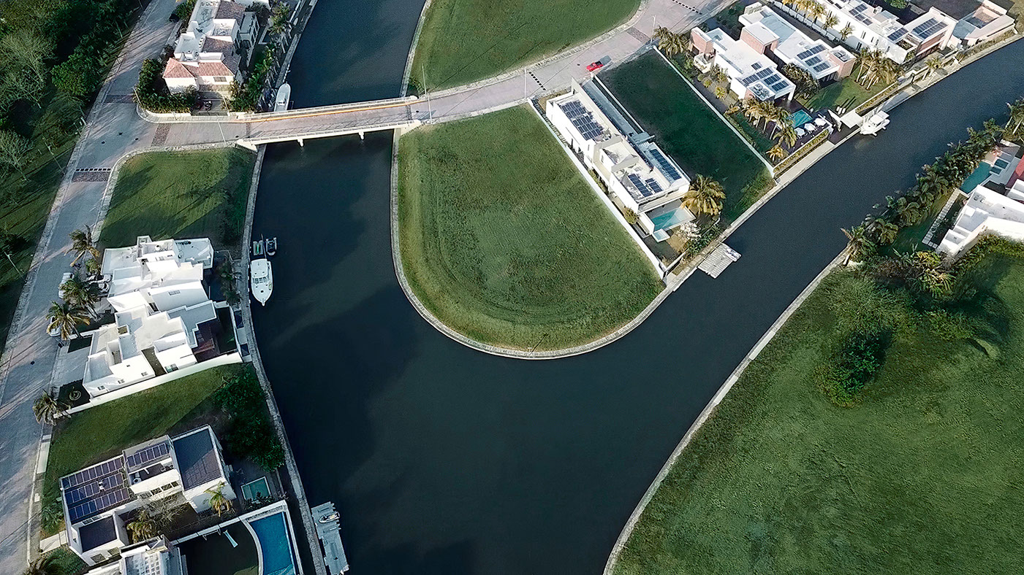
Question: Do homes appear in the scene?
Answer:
Yes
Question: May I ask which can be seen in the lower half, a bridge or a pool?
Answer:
pool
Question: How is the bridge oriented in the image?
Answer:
horizontally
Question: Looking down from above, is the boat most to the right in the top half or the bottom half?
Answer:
top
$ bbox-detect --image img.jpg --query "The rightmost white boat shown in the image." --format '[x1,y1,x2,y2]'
[861,102,894,132]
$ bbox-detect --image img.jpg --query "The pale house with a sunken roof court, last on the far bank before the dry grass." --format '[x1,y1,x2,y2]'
[948,0,1015,53]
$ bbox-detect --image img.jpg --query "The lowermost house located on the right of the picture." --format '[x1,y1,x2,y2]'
[932,179,1024,267]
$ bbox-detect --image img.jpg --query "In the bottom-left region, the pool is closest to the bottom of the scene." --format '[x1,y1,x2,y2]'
[243,506,298,575]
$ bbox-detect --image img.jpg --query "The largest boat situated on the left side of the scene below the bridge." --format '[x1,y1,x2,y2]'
[248,251,272,304]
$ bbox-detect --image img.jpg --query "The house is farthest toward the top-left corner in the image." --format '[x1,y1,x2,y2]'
[163,0,276,97]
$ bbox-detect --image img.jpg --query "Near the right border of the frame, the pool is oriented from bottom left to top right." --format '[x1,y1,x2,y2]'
[960,162,994,195]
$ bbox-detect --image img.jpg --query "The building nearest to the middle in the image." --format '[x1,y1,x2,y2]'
[546,78,690,242]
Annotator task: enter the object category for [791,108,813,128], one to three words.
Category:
swimming pool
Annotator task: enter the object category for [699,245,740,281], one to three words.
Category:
pier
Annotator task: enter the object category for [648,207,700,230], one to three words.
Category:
swimming pool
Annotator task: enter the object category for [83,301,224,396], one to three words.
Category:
house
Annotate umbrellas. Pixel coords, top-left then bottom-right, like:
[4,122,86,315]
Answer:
[793,127,806,136]
[813,117,827,132]
[802,122,816,132]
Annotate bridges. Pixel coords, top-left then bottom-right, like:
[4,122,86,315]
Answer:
[235,96,422,149]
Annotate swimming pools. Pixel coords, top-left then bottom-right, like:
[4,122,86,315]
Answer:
[791,108,813,128]
[994,157,1011,170]
[239,475,272,504]
[243,506,298,575]
[960,162,994,195]
[653,225,673,243]
[989,165,1004,176]
[648,207,700,230]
